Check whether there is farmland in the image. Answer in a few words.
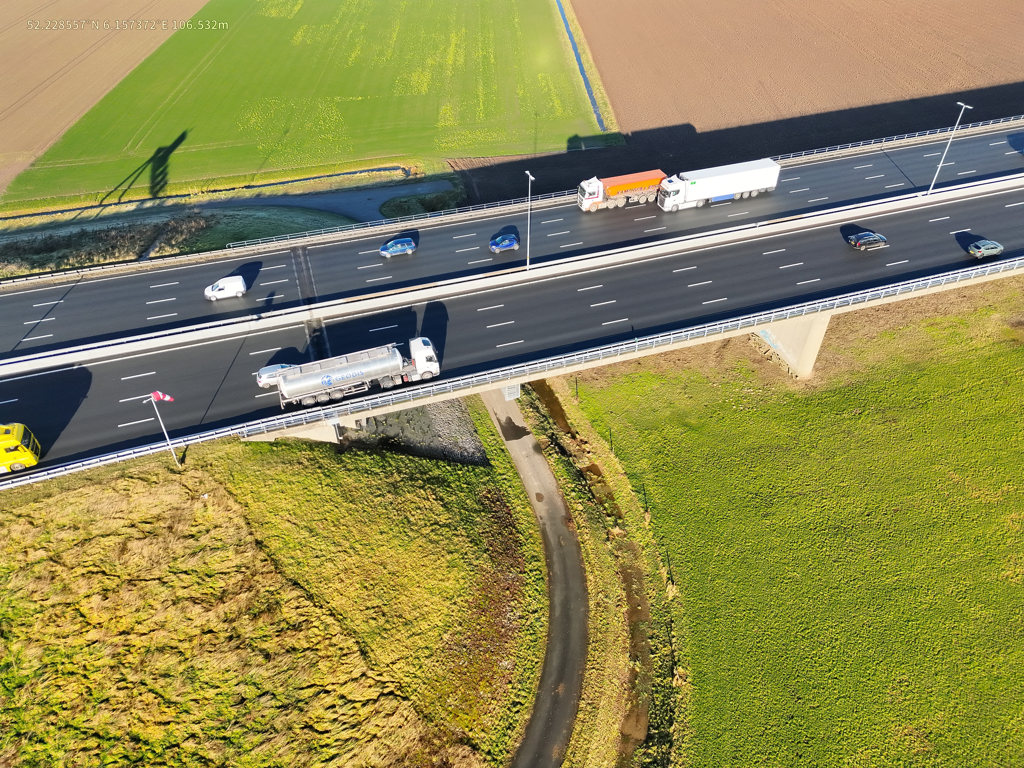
Yes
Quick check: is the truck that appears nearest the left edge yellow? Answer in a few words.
Yes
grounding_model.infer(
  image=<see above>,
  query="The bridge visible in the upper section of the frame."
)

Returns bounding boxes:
[0,124,1024,445]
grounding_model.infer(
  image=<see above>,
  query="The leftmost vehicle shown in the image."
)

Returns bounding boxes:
[0,423,39,471]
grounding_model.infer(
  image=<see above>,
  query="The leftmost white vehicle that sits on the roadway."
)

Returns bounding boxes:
[203,276,243,301]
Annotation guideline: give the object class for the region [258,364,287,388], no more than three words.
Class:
car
